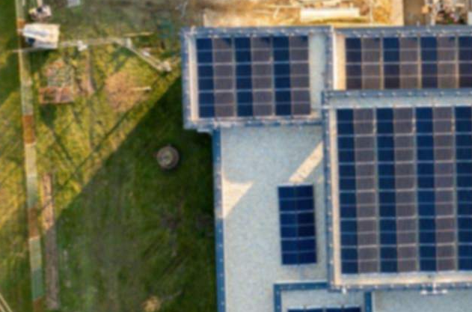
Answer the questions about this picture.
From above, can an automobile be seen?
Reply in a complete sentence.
No, no automobile is visible in the scene.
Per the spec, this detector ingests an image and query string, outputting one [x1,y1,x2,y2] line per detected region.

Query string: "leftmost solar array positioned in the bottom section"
[279,183,317,266]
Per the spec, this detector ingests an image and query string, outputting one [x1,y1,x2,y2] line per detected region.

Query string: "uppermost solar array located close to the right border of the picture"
[346,34,472,91]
